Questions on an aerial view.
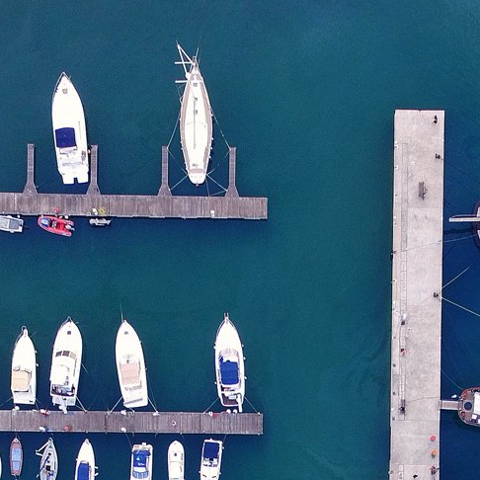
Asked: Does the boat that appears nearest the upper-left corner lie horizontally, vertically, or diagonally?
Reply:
vertically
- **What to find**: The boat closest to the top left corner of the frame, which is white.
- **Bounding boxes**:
[50,67,89,185]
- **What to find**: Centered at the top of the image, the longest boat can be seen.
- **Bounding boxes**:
[176,49,215,188]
